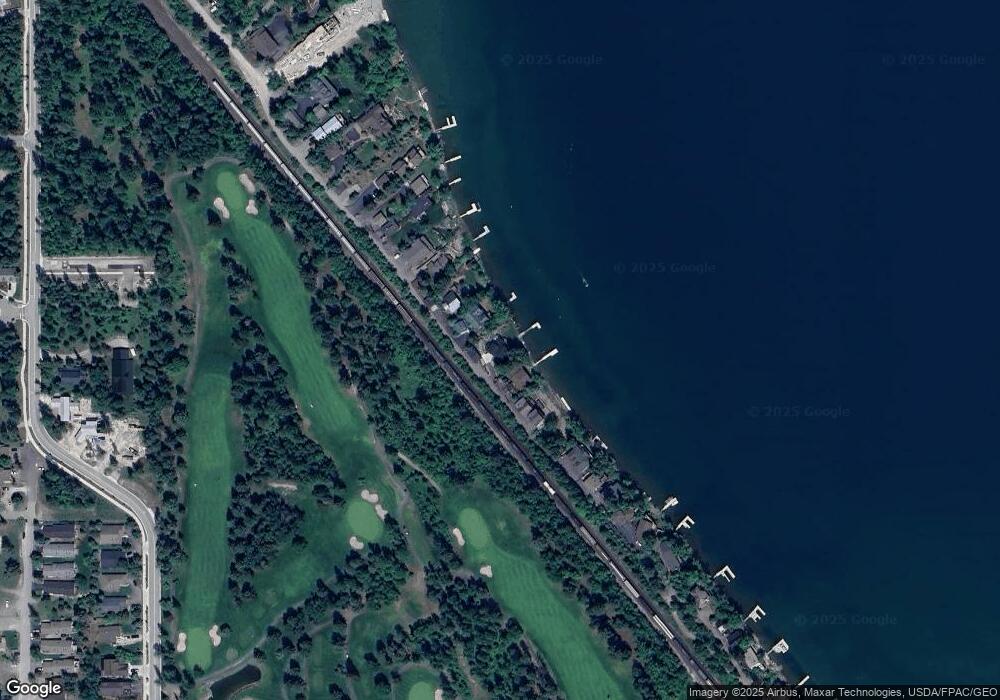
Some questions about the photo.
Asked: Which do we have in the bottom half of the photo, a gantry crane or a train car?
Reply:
train car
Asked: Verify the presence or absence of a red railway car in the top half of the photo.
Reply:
No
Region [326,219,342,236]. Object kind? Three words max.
rail car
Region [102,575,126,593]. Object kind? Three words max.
house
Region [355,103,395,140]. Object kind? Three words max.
house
